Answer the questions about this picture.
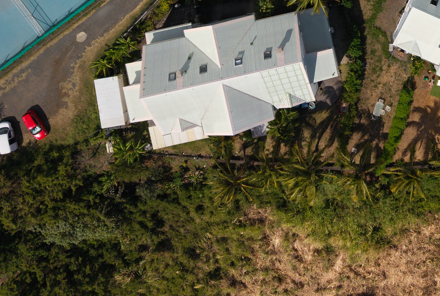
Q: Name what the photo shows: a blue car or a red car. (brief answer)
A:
red car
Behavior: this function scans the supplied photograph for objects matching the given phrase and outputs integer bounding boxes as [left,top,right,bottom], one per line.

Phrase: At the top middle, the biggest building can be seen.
[123,7,339,136]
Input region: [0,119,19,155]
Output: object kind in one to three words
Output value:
vehicle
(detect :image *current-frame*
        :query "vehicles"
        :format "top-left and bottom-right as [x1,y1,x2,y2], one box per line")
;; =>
[0,119,19,155]
[24,108,49,140]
